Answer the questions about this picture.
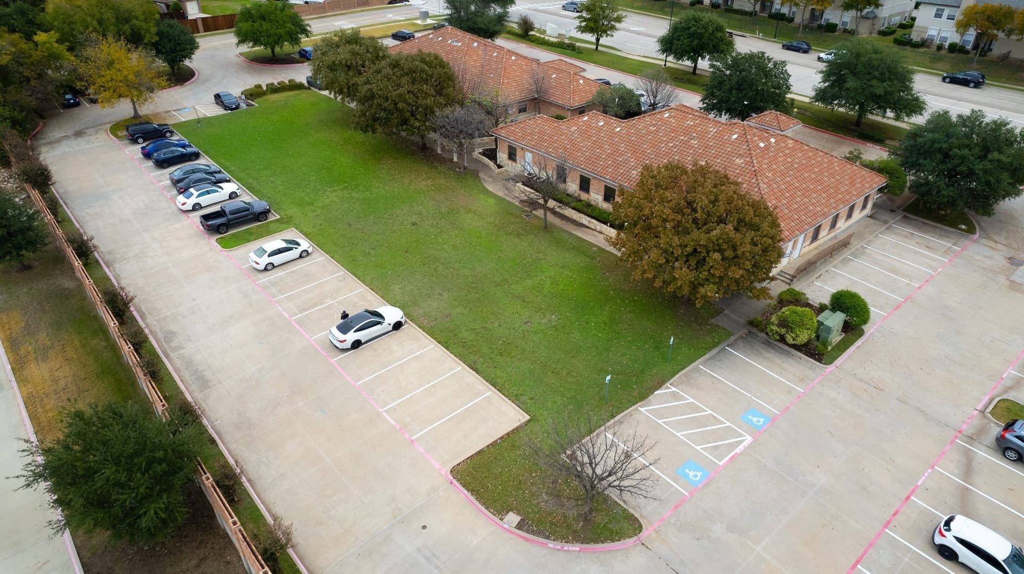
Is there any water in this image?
No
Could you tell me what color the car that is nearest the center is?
white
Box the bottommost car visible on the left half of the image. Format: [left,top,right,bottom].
[327,304,406,350]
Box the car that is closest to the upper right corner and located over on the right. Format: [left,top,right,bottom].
[939,71,986,89]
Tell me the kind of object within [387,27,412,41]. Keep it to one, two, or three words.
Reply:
car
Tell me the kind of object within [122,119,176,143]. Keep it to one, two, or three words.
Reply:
car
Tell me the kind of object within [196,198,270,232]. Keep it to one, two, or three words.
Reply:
truck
